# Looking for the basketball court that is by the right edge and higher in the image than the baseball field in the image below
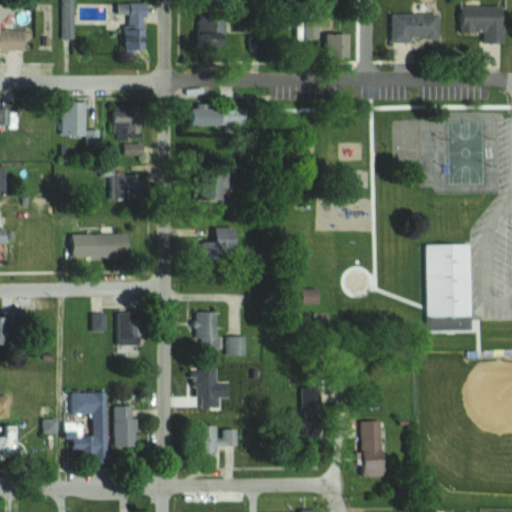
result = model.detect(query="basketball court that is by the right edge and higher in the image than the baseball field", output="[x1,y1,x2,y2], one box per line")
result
[392,112,499,194]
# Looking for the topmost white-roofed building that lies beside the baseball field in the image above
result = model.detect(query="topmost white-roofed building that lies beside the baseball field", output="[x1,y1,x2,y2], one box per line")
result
[426,244,472,330]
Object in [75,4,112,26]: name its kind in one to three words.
swimming pool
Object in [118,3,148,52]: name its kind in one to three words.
house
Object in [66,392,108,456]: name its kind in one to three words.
house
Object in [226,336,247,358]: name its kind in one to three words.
building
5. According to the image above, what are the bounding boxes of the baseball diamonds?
[418,352,512,496]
